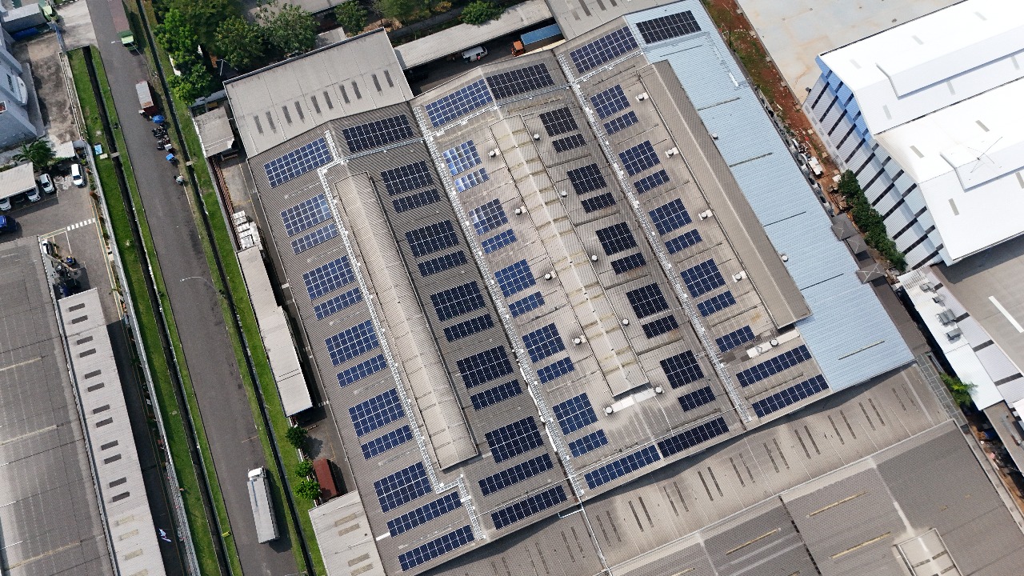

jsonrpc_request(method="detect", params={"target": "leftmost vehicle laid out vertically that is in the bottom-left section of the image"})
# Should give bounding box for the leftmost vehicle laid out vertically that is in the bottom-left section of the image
[249,464,285,541]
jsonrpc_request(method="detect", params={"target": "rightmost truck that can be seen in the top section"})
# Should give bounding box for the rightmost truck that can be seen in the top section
[513,26,555,54]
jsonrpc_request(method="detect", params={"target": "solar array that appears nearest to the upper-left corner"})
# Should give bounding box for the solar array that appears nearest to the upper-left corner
[264,138,330,186]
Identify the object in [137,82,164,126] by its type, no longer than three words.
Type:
truck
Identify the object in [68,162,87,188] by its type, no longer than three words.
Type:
car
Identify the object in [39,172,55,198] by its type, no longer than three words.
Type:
car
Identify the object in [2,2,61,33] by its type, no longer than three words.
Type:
truck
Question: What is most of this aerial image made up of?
buildings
